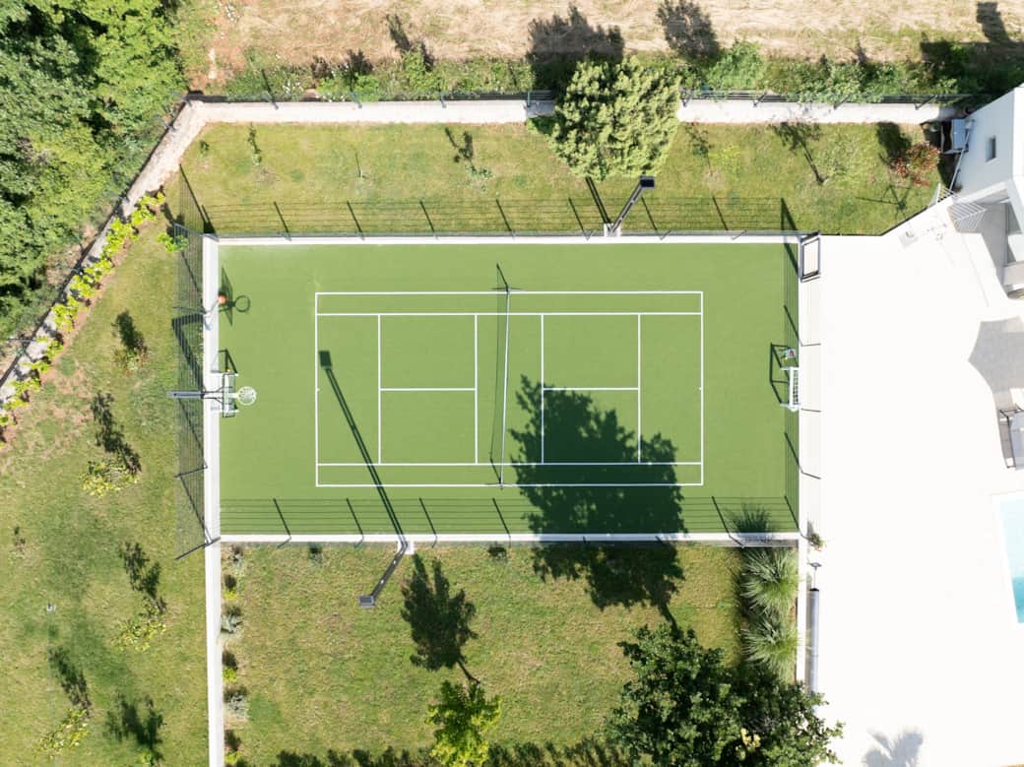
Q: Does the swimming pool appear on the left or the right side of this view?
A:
right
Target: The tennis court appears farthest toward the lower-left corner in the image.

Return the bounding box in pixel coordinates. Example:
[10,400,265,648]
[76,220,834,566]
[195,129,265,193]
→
[217,235,801,544]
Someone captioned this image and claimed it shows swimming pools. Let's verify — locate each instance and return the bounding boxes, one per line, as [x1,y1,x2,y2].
[987,485,1024,634]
